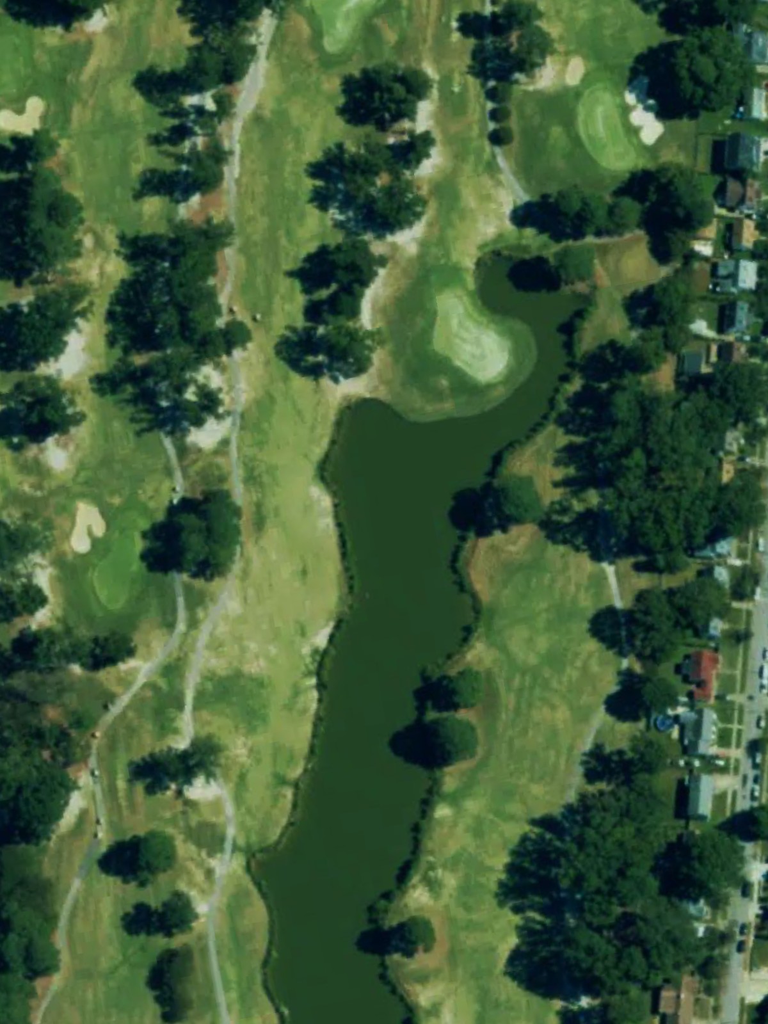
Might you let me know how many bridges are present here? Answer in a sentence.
There are no bridges in the image.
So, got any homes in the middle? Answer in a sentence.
No, in the middle there is no home.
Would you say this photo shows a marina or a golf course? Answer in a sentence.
The picture captures a golf course.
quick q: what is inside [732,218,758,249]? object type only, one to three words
house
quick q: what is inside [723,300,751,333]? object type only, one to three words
house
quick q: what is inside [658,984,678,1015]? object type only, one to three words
shed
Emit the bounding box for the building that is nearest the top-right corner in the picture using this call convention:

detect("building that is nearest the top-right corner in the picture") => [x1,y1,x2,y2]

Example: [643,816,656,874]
[734,30,768,62]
